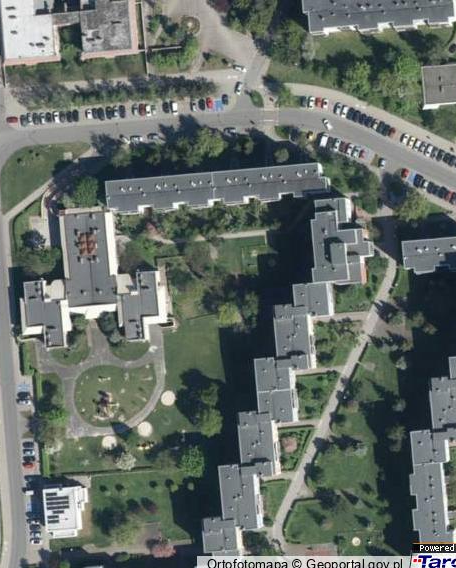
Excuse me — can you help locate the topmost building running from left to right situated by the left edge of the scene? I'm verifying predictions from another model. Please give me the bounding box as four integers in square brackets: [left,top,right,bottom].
[2,0,142,69]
